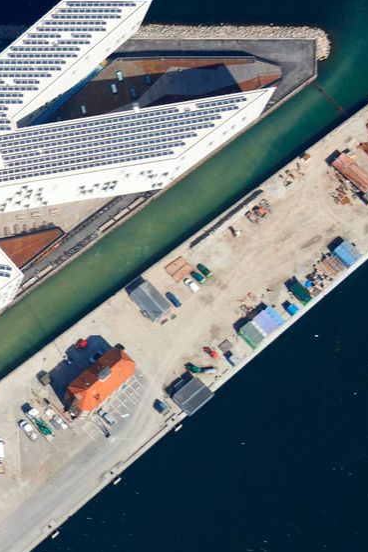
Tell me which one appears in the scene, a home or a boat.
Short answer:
home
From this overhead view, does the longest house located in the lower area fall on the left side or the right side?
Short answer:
left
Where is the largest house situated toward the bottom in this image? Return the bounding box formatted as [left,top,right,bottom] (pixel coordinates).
[56,349,139,425]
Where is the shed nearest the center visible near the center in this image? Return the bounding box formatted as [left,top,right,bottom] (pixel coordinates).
[128,279,170,323]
